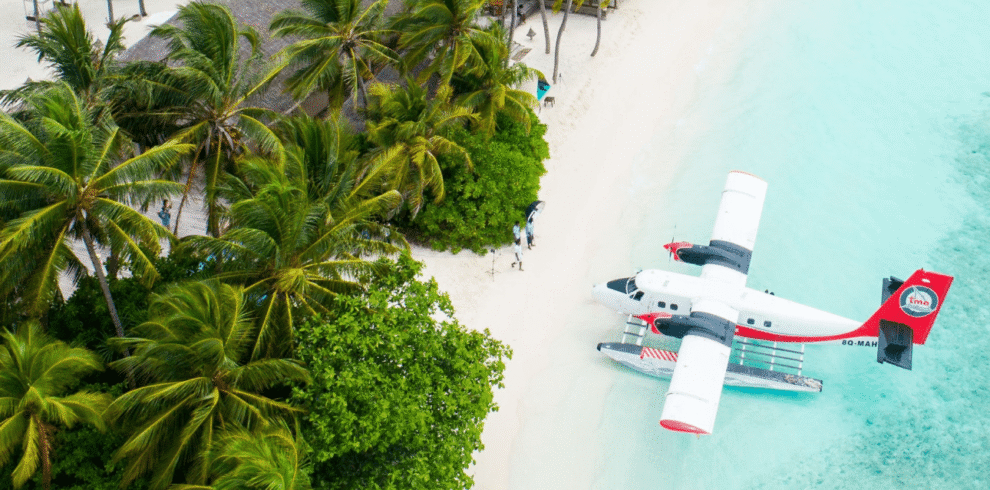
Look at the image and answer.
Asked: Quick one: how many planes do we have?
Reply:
1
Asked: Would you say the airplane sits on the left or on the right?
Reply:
right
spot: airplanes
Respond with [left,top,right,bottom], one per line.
[592,172,952,434]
